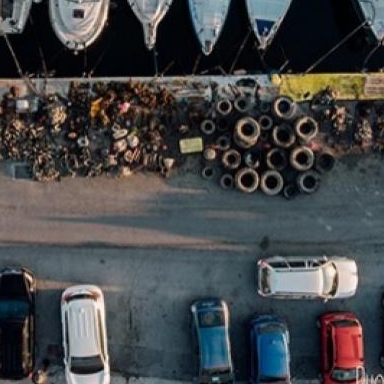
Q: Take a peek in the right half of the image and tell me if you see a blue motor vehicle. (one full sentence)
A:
Yes, the scene does show a blue motor vehicle in the right half of the image.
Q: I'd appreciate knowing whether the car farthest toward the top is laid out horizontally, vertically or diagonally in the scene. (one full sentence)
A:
From this overhead view, the car farthest toward the top appears to run horizontally.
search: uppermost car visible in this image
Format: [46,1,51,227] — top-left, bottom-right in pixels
[253,251,357,304]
